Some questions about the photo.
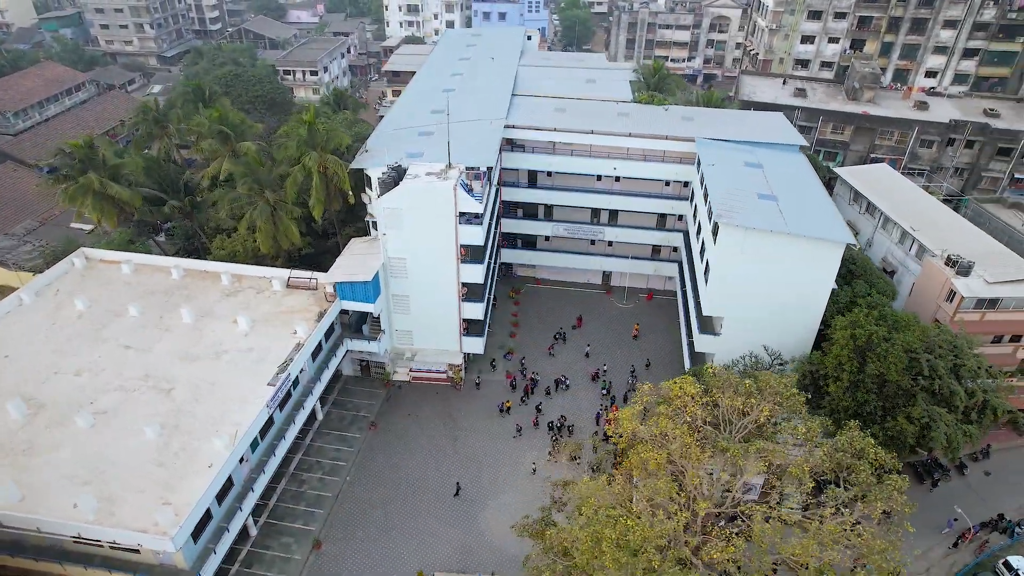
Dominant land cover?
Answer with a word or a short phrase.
buildings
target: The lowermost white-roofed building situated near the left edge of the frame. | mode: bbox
[0,249,355,576]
